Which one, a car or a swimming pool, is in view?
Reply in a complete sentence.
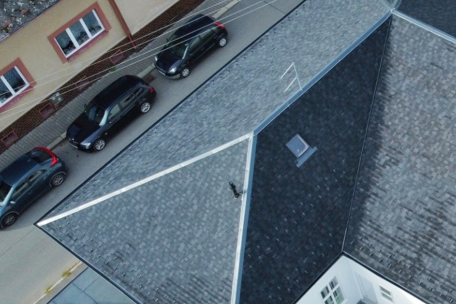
There is a car in the scene.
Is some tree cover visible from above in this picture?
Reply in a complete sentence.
No, tree cover can't be seen anywhere here.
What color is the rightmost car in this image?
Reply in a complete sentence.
The rightmost car is black.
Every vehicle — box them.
[54,69,157,155]
[0,147,66,230]
[147,13,228,81]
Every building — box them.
[32,0,456,304]
[0,0,200,150]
